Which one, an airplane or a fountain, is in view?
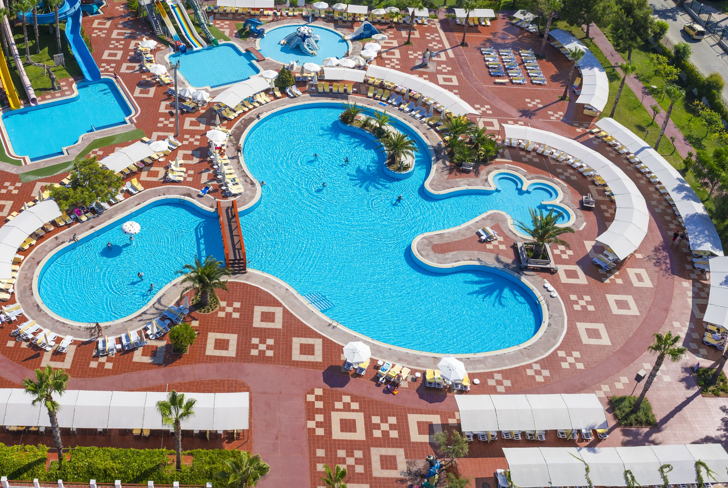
fountain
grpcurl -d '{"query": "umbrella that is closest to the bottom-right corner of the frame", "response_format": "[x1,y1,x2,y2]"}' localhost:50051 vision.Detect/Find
[436,358,467,390]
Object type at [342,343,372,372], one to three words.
umbrella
